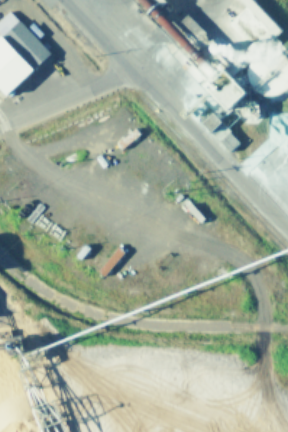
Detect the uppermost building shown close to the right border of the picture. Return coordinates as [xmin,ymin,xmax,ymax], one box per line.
[192,0,283,45]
